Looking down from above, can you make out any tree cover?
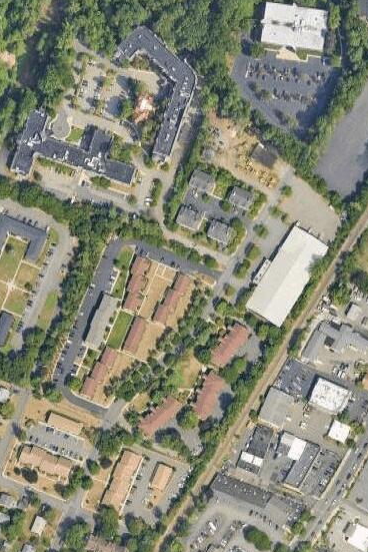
Yes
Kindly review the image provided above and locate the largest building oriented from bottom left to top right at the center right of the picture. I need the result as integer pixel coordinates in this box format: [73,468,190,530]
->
[246,225,329,328]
